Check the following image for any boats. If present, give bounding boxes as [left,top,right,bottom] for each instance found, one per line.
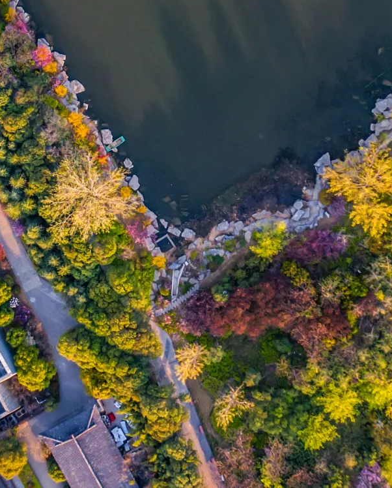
[109,136,126,149]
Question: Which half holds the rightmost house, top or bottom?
bottom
